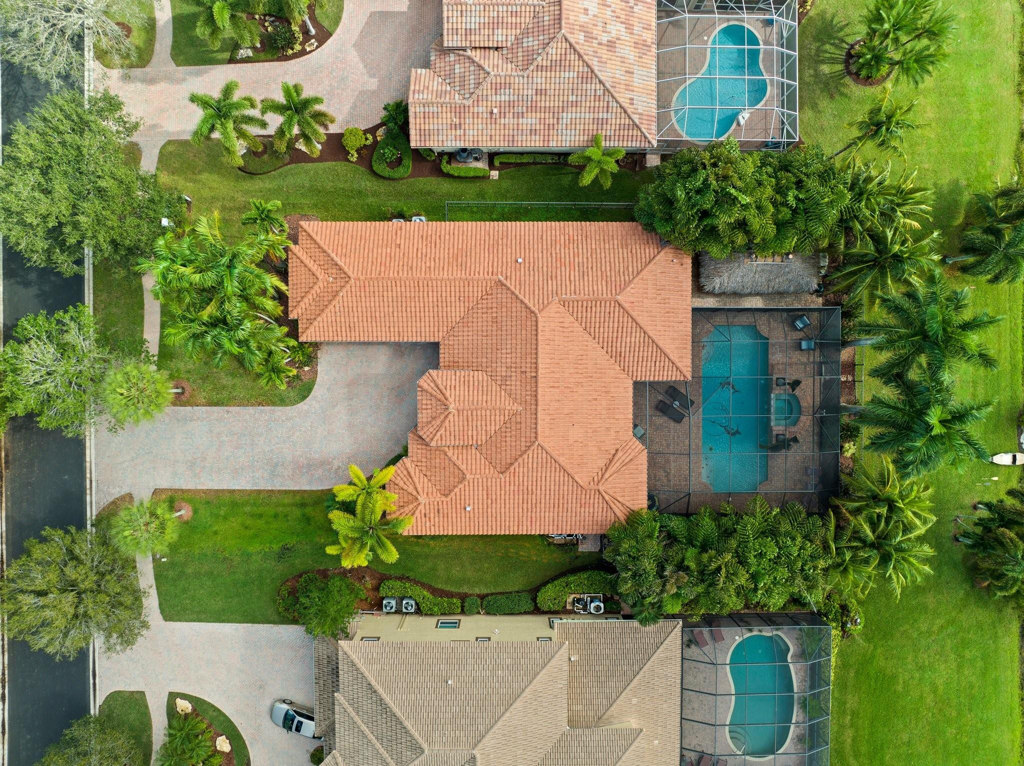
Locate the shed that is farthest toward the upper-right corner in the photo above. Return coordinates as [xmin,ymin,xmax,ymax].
[696,241,820,298]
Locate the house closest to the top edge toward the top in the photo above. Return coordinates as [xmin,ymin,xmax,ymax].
[407,0,658,155]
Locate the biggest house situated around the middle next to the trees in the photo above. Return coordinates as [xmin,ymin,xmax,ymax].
[287,220,693,536]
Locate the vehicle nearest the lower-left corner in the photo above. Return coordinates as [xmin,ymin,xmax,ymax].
[267,700,323,745]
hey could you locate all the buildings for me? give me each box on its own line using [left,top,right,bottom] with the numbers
[287,220,693,536]
[407,0,658,155]
[312,613,684,766]
[696,241,820,298]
